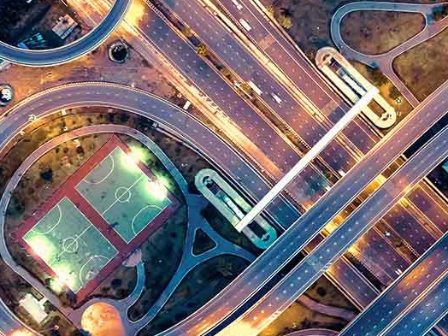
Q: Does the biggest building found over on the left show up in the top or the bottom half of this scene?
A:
bottom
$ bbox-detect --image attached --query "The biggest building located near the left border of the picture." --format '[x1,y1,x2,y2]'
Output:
[21,294,52,323]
